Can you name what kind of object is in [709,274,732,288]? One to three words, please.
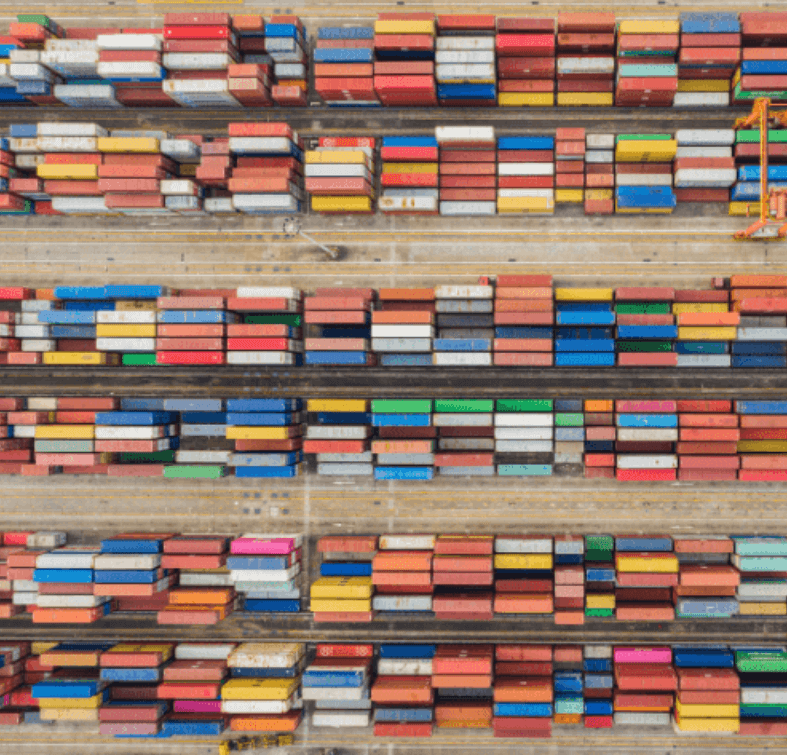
vehicle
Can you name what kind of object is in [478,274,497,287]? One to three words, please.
vehicle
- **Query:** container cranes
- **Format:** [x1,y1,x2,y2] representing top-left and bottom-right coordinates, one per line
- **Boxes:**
[733,93,787,240]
